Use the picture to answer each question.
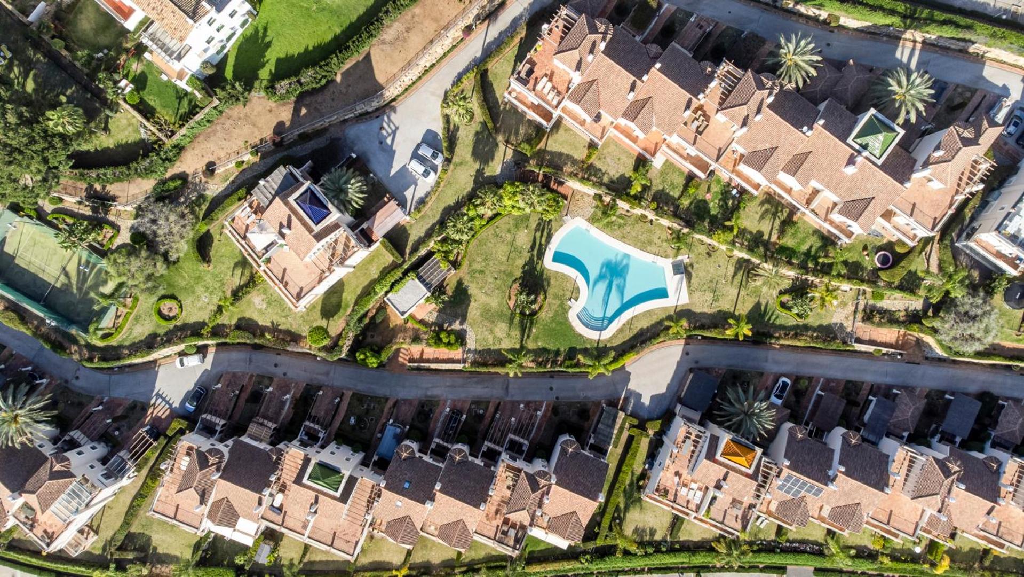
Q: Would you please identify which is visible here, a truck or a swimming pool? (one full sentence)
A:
I can see a swimming pool in this picture.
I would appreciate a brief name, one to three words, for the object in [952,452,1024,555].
house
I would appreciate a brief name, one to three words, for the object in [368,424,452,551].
house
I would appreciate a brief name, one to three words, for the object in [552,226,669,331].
swimming pool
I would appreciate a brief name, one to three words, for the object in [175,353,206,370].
car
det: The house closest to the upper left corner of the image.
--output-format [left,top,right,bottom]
[95,0,262,99]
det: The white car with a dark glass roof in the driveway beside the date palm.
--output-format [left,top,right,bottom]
[768,375,790,407]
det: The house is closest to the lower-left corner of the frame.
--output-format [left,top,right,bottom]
[0,426,166,559]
